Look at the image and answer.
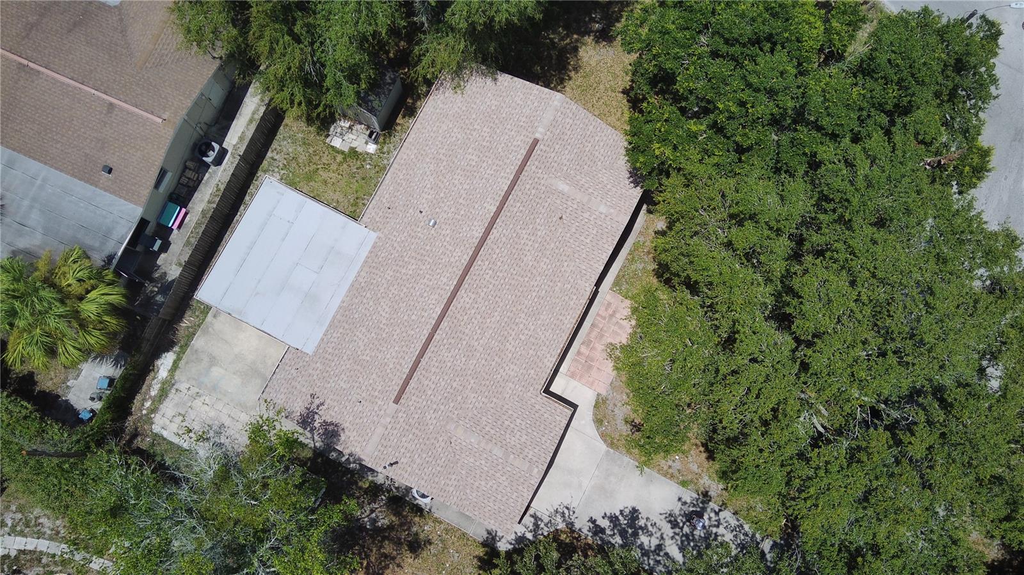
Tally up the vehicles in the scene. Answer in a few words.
none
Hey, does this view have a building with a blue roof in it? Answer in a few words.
No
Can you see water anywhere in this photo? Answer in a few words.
No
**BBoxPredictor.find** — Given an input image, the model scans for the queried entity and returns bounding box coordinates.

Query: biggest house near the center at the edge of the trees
[192,56,653,537]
